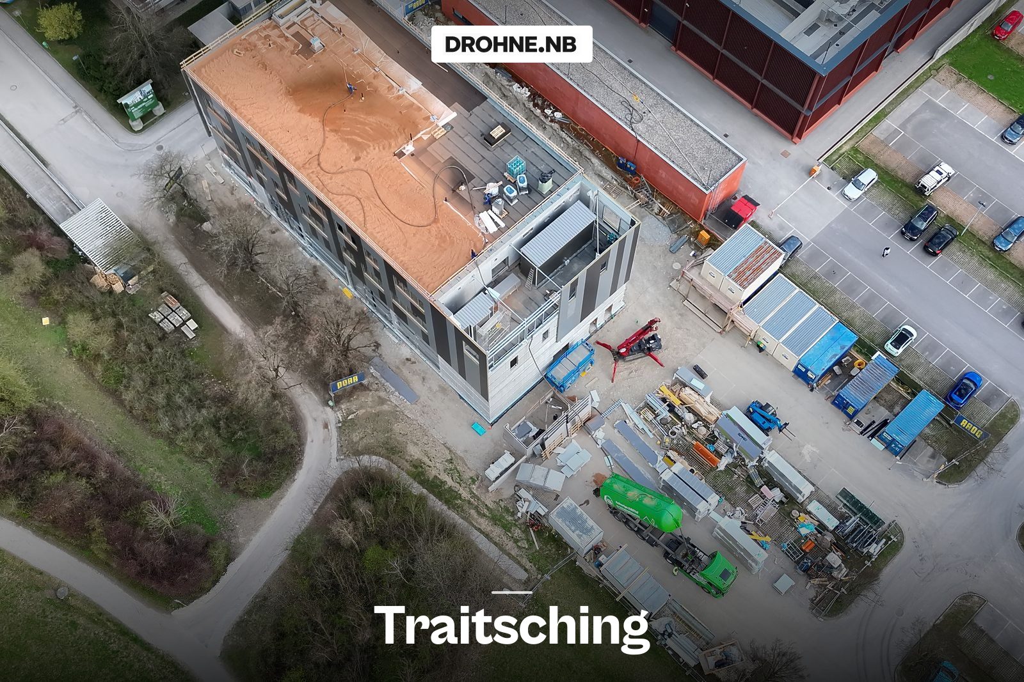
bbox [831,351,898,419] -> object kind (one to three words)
shipping container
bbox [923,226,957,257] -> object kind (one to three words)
car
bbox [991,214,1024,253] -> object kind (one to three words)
car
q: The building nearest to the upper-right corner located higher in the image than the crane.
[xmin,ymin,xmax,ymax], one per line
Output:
[608,0,958,142]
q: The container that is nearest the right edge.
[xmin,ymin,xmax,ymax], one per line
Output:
[876,387,944,455]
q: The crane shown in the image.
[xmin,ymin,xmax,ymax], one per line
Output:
[595,314,666,384]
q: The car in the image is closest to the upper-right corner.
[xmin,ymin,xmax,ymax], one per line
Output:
[991,9,1024,39]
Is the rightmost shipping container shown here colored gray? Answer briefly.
No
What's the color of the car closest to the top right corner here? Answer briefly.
red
